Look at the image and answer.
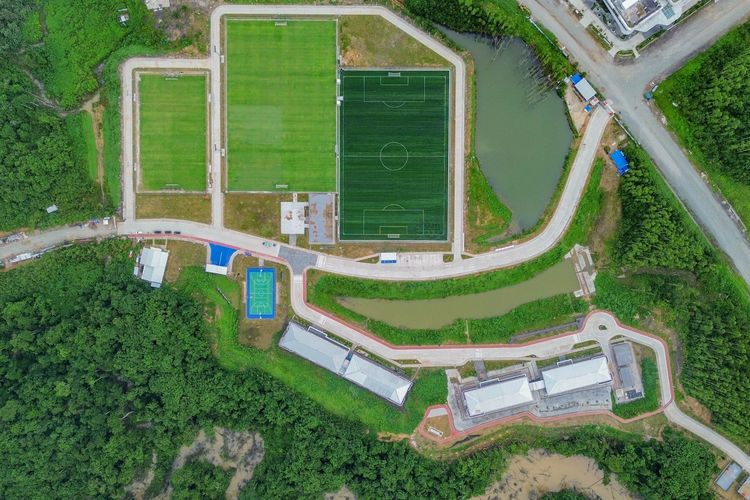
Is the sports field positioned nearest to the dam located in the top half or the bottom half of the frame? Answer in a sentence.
The sports field positioned nearest to the dam is in the top half of the image.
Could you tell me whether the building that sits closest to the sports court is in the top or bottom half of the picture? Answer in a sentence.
Seen from above, the building that sits closest to the sports court lies in the bottom half of the view.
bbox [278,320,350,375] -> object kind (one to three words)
building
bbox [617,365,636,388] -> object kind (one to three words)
building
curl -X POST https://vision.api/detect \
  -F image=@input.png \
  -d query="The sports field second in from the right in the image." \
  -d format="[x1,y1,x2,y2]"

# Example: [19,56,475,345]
[226,19,337,192]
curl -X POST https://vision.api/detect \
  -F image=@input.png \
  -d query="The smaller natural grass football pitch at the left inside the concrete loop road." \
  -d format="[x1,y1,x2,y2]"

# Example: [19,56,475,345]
[138,73,208,192]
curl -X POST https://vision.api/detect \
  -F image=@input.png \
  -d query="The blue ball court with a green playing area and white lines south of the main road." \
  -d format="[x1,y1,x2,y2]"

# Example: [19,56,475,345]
[246,267,275,319]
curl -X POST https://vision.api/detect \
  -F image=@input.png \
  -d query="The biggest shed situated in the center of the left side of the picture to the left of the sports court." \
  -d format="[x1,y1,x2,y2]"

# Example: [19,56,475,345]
[140,247,168,288]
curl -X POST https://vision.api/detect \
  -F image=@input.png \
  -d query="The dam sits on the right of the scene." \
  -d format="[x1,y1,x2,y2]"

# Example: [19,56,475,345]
[565,244,598,297]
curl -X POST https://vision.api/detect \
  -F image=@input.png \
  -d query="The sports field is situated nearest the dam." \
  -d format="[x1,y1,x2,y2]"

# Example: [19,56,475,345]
[339,70,450,242]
